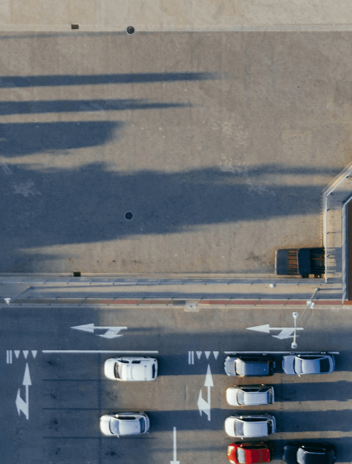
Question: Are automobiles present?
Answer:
Yes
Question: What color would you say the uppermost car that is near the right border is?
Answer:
blue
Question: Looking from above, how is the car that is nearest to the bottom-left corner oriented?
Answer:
from left to right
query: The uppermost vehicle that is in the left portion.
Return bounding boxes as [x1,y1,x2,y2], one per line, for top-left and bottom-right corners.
[105,356,159,385]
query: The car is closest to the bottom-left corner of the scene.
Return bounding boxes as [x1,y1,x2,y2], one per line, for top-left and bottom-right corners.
[100,410,153,438]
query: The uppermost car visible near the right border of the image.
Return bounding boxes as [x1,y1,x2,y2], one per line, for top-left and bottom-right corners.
[283,351,336,378]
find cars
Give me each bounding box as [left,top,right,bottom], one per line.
[228,441,273,464]
[284,441,336,464]
[226,383,275,409]
[283,351,336,378]
[224,352,275,380]
[100,410,153,438]
[225,412,278,439]
[105,356,159,385]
